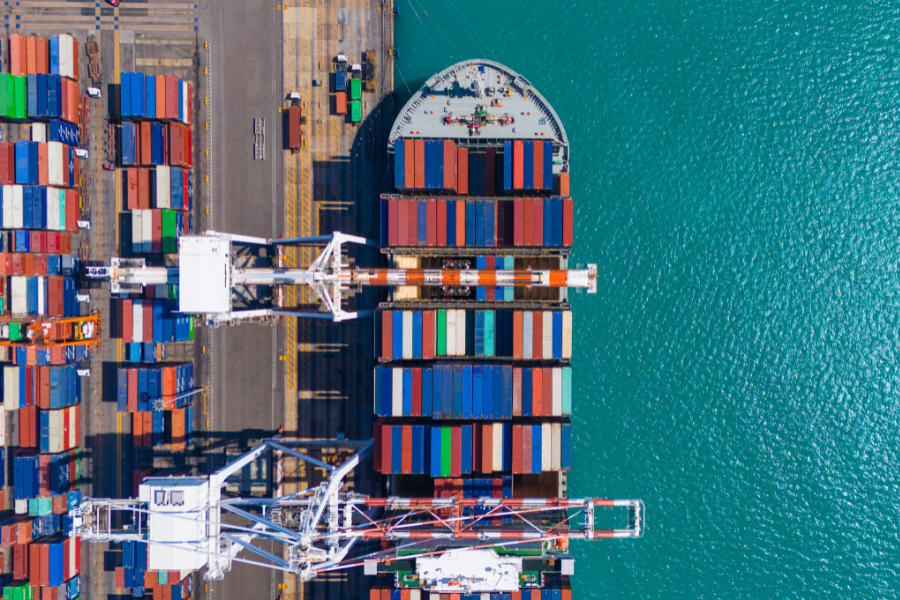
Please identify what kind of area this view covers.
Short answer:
port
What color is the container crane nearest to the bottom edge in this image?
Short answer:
white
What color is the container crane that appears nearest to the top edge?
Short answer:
white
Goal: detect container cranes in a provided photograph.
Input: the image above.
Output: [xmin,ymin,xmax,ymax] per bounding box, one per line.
[0,309,99,352]
[83,232,598,330]
[70,418,647,583]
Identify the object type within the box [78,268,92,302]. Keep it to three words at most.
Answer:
vehicle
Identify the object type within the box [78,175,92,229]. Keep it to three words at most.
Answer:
vehicle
